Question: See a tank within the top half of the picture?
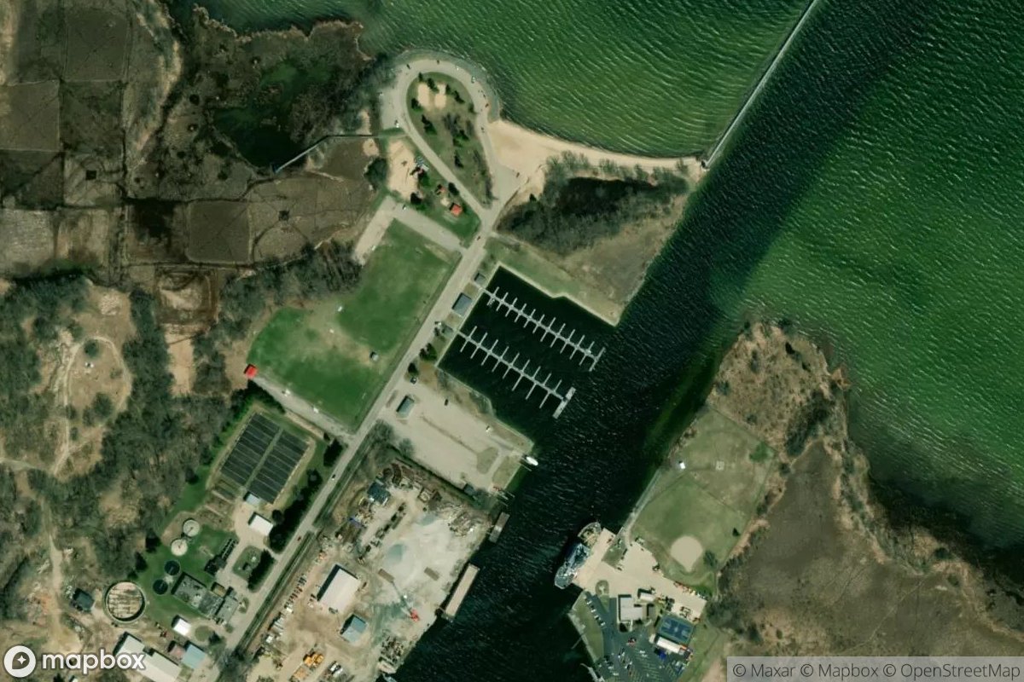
No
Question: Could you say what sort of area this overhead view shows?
port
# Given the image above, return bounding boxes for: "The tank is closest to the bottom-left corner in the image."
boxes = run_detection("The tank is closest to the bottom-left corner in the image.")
[104,582,145,623]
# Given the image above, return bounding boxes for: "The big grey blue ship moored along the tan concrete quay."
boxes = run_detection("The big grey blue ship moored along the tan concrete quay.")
[555,522,601,589]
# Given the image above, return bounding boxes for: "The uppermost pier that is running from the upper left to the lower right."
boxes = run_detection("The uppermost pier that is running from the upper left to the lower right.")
[484,286,605,371]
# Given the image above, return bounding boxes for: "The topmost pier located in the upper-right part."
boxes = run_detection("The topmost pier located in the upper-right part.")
[706,0,815,168]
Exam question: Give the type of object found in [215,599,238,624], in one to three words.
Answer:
building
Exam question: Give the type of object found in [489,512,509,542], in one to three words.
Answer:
ship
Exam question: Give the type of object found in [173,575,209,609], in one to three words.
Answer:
building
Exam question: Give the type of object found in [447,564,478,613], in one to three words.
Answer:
ship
